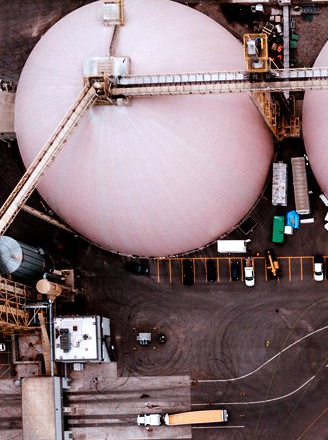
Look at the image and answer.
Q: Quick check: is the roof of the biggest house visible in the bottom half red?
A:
No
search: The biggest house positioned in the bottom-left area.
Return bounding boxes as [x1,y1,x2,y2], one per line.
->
[54,317,114,362]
